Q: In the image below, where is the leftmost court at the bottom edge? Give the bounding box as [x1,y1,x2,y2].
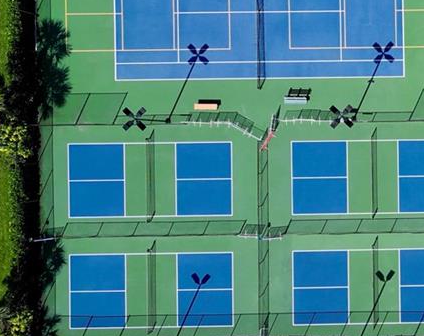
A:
[69,252,234,329]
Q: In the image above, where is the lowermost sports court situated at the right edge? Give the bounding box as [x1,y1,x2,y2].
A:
[292,248,424,325]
